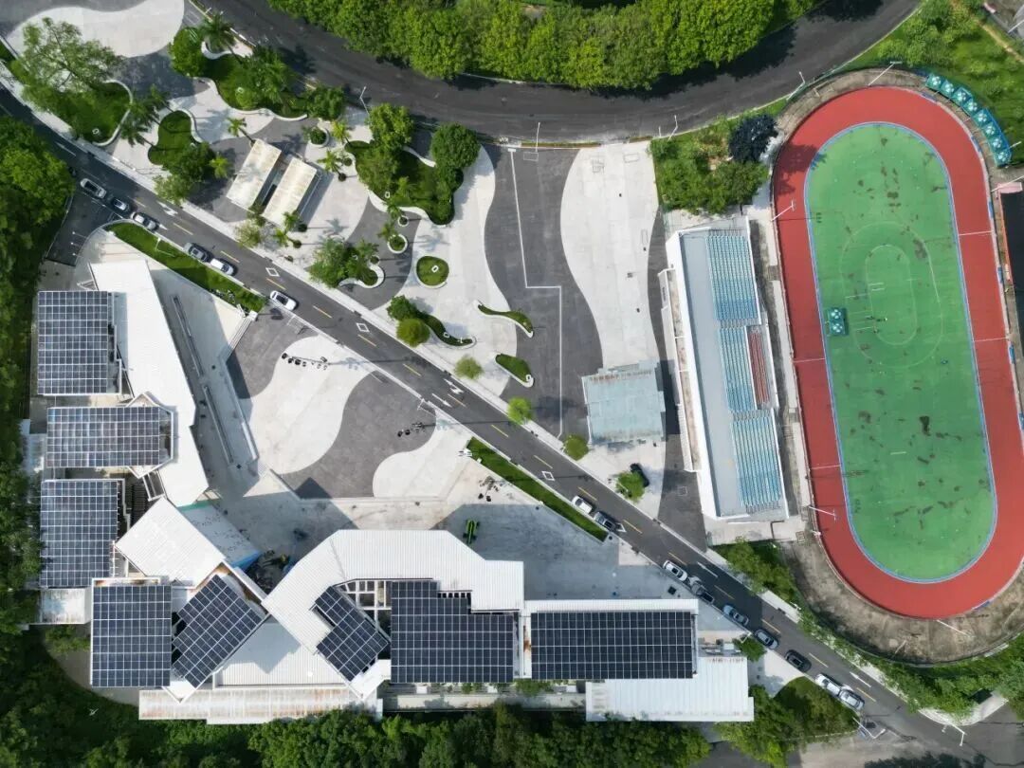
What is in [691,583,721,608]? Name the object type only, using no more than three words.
truck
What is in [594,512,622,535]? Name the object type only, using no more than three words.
car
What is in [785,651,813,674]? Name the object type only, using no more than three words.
car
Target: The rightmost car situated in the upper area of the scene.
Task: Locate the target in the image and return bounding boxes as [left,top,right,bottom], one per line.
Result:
[268,289,295,311]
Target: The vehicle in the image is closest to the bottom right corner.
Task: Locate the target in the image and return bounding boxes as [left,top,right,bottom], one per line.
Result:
[842,692,869,715]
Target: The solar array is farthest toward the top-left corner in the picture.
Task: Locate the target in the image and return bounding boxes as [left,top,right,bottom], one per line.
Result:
[35,291,112,394]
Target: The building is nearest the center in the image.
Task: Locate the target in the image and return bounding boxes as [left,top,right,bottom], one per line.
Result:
[581,360,666,444]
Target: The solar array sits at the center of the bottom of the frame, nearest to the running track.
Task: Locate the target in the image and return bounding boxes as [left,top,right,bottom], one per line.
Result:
[531,611,691,679]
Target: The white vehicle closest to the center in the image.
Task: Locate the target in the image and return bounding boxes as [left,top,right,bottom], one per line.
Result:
[569,494,593,514]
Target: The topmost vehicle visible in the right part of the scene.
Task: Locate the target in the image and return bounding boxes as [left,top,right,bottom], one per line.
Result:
[629,460,653,486]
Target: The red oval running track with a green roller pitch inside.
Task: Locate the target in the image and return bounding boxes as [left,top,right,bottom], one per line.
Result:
[768,81,1024,625]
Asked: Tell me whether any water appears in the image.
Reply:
No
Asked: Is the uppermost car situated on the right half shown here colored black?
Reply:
Yes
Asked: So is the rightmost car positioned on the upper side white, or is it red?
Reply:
white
